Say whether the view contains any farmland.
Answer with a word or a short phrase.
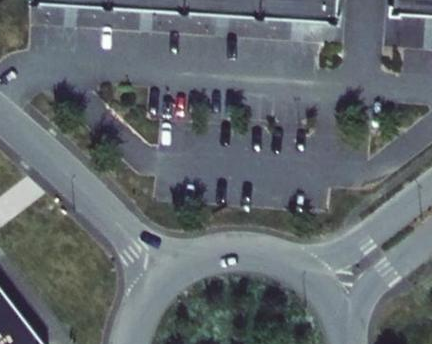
No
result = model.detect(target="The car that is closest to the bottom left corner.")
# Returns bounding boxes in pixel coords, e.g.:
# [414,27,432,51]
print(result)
[138,231,162,248]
